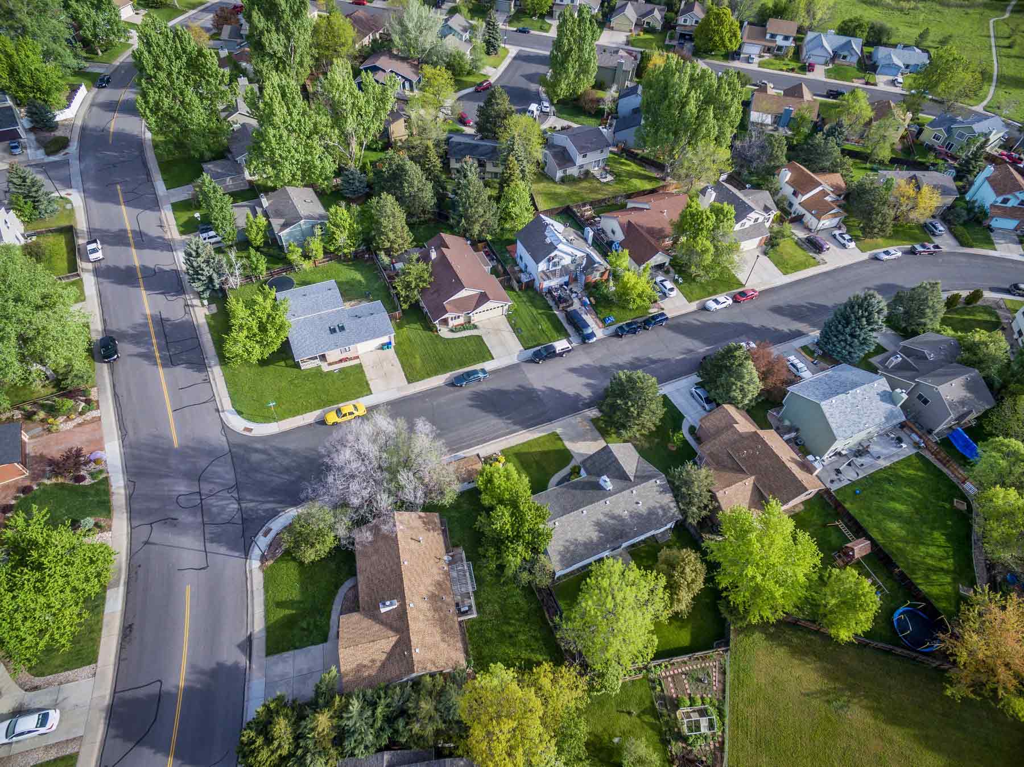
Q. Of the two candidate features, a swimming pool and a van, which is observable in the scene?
van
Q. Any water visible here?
No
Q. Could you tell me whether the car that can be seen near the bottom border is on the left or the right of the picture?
left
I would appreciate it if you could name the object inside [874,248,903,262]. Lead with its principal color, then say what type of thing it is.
white car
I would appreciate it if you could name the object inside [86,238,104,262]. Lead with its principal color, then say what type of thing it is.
white vehicle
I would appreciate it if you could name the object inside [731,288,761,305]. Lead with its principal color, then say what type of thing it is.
red car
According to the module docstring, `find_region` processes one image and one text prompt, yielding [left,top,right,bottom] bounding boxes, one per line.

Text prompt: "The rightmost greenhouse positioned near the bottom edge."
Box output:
[676,705,716,741]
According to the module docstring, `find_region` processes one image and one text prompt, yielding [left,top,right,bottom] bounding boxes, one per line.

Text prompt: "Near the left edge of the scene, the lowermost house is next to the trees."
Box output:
[0,421,46,470]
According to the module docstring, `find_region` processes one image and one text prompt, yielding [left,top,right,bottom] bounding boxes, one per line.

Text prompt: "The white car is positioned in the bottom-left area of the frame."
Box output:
[0,704,64,750]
